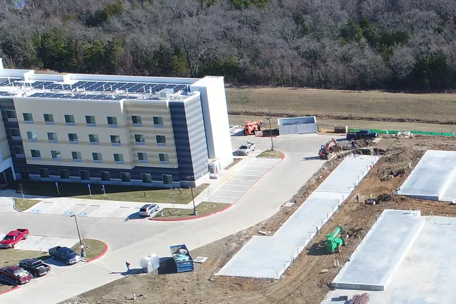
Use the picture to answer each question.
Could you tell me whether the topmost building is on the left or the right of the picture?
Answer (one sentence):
You can find the topmost building on the left side of the picture.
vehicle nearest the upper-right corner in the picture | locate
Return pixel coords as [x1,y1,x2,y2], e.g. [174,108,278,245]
[347,126,379,138]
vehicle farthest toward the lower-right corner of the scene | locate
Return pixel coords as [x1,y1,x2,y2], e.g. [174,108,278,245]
[324,219,351,249]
